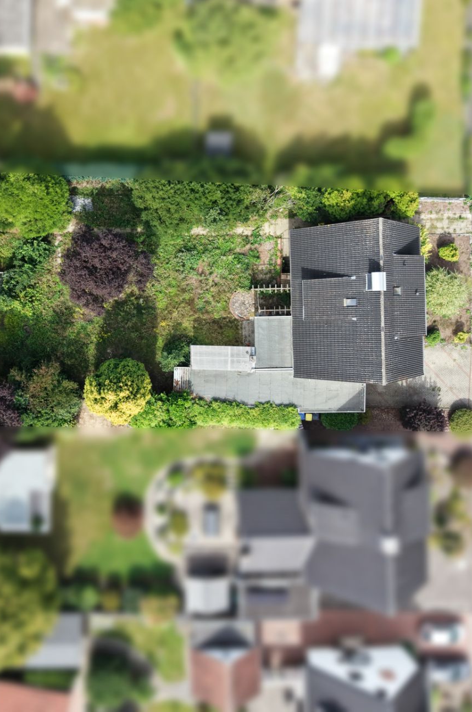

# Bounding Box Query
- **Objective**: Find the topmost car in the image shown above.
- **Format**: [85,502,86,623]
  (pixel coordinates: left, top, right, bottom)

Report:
[413,617,467,643]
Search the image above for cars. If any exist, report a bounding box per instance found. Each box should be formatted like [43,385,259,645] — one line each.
[418,654,472,682]
[413,617,467,643]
